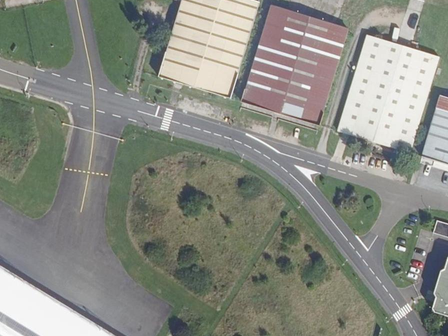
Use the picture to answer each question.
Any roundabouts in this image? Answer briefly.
No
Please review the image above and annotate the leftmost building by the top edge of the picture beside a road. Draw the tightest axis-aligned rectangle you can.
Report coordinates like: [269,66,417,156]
[158,0,260,97]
